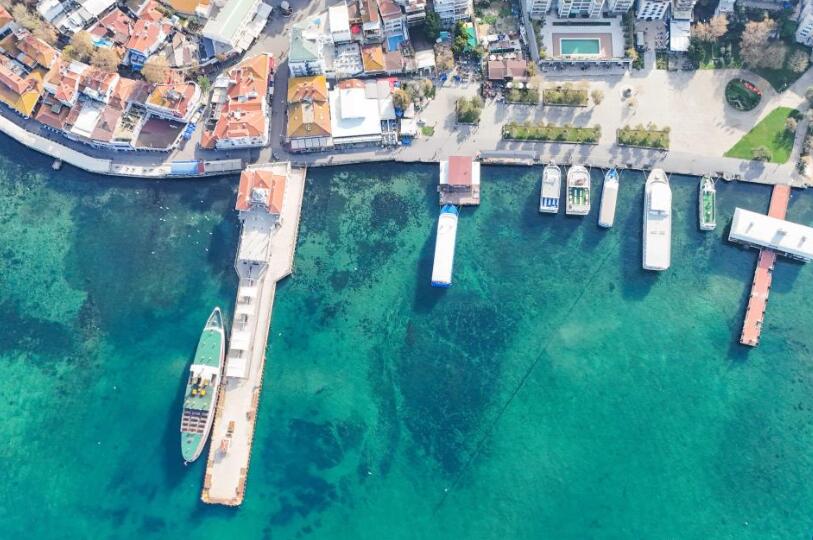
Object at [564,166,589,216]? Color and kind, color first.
white boat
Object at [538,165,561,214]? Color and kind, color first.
white boat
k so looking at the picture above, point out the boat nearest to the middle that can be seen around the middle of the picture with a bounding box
[432,205,459,287]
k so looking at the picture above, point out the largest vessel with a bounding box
[175,309,223,469]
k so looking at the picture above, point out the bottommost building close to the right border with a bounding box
[723,208,813,268]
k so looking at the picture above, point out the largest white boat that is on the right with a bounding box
[639,170,671,270]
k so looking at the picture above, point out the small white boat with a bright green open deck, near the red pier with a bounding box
[697,178,715,230]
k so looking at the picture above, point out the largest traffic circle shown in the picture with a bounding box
[724,78,762,111]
